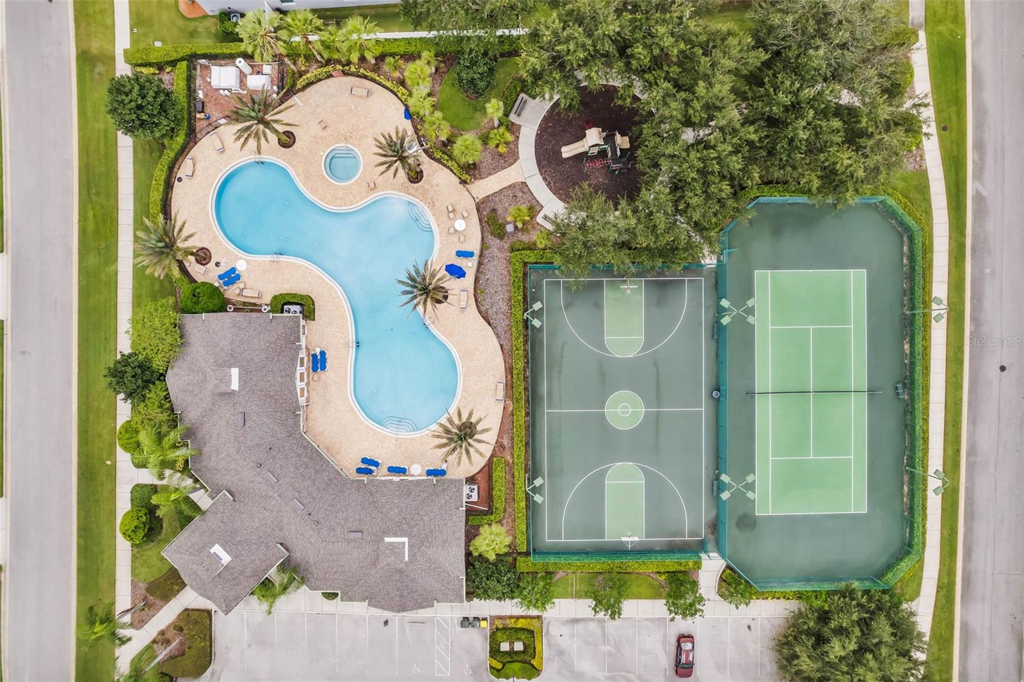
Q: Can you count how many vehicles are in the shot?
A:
1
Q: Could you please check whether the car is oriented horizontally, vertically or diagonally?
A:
vertically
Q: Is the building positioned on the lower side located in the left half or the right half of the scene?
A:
left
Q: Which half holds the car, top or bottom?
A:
bottom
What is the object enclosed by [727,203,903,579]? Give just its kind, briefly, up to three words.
tennis court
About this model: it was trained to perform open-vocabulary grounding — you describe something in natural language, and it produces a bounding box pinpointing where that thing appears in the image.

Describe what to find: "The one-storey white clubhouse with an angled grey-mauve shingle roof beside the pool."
[161,313,466,615]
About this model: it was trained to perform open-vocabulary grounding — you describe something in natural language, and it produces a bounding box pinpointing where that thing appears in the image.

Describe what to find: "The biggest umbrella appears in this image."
[442,261,464,279]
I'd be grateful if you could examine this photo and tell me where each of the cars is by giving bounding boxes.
[675,632,698,679]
